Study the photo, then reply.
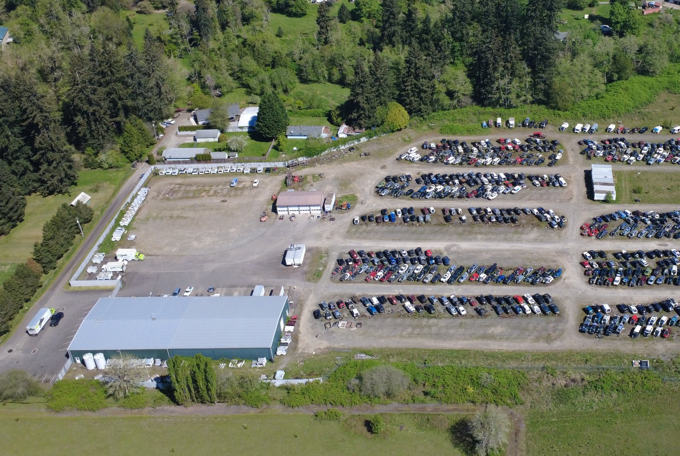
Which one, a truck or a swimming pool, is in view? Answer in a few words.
truck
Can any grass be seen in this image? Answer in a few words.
Yes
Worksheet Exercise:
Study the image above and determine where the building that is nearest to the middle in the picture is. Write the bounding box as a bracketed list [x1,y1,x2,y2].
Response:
[276,190,325,215]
